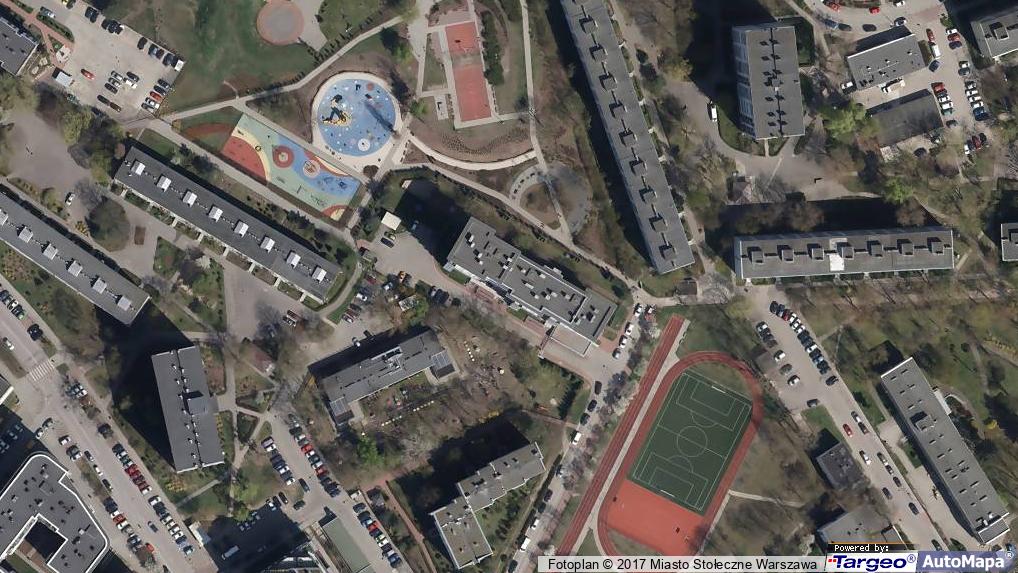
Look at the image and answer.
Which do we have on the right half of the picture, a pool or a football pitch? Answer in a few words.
football pitch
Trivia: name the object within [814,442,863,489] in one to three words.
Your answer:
building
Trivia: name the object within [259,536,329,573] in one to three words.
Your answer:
building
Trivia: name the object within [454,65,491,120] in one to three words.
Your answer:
sports court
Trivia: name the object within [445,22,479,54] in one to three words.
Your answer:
sports court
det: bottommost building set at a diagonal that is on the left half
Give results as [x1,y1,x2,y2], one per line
[322,515,379,573]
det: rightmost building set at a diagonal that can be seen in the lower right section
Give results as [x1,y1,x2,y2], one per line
[875,355,1010,545]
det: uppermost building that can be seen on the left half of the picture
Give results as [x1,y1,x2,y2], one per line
[0,15,38,75]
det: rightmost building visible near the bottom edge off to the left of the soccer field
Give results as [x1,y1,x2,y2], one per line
[430,438,546,568]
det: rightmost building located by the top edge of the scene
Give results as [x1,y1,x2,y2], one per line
[968,5,1018,59]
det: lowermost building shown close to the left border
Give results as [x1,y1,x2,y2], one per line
[0,450,113,573]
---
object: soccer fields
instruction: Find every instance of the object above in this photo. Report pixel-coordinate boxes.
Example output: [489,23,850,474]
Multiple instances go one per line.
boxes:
[628,369,755,513]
